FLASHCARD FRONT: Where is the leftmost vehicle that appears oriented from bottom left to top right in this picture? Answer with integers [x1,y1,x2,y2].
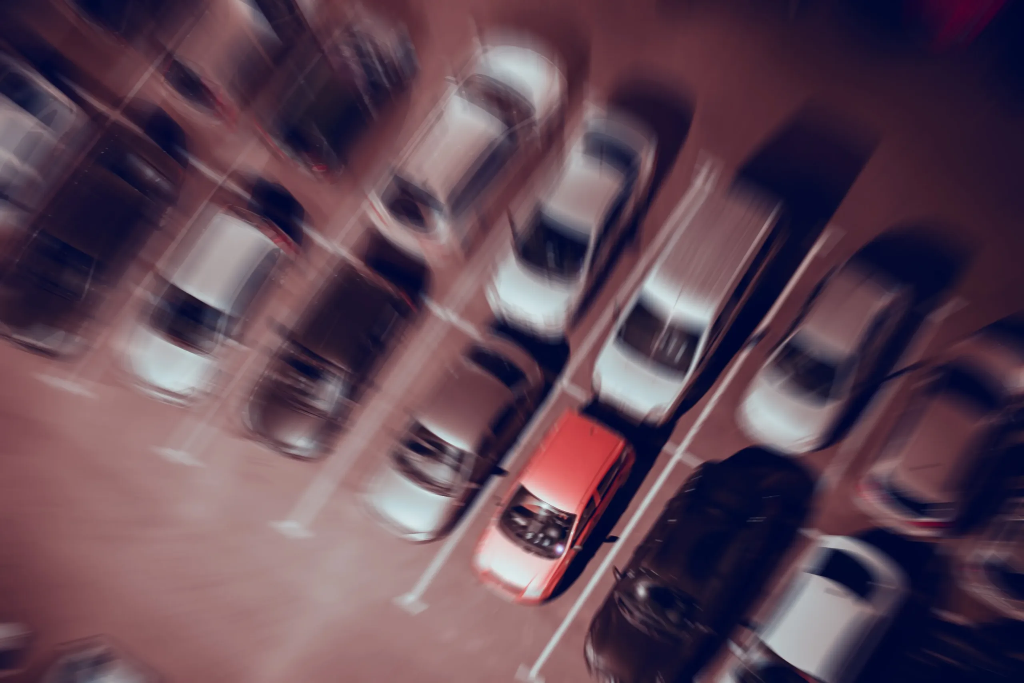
[7,128,192,357]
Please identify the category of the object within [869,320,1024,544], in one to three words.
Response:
car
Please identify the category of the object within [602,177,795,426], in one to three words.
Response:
van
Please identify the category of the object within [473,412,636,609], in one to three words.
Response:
car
